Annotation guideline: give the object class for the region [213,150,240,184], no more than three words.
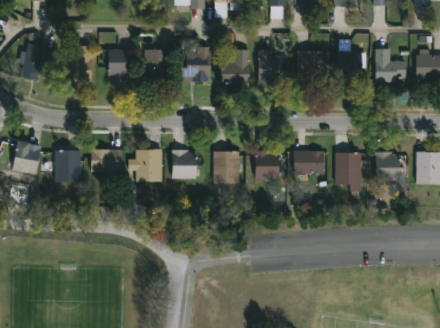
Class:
house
